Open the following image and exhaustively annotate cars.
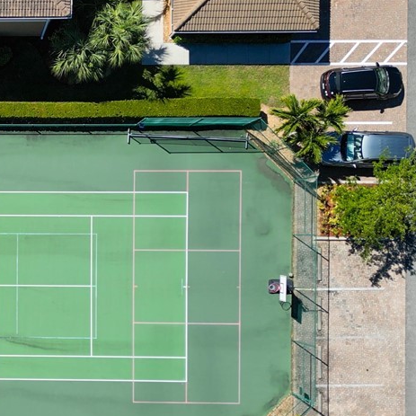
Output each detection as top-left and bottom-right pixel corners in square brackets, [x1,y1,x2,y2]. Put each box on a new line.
[315,62,401,105]
[317,127,416,171]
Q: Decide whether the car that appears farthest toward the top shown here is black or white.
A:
black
